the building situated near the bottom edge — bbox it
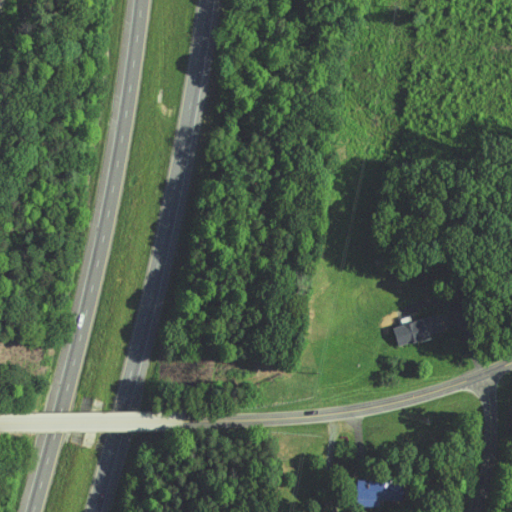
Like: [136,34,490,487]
[356,479,404,507]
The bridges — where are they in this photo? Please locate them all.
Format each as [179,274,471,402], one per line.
[0,412,185,434]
